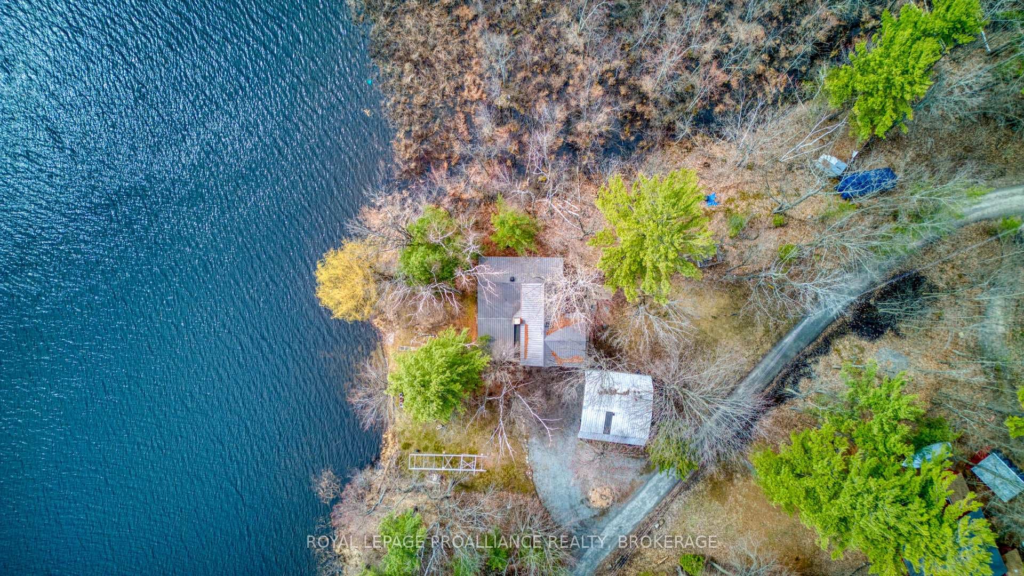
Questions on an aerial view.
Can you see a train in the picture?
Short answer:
No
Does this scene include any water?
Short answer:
Yes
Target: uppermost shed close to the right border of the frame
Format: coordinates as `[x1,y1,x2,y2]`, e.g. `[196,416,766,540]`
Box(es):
[967,453,1024,502]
